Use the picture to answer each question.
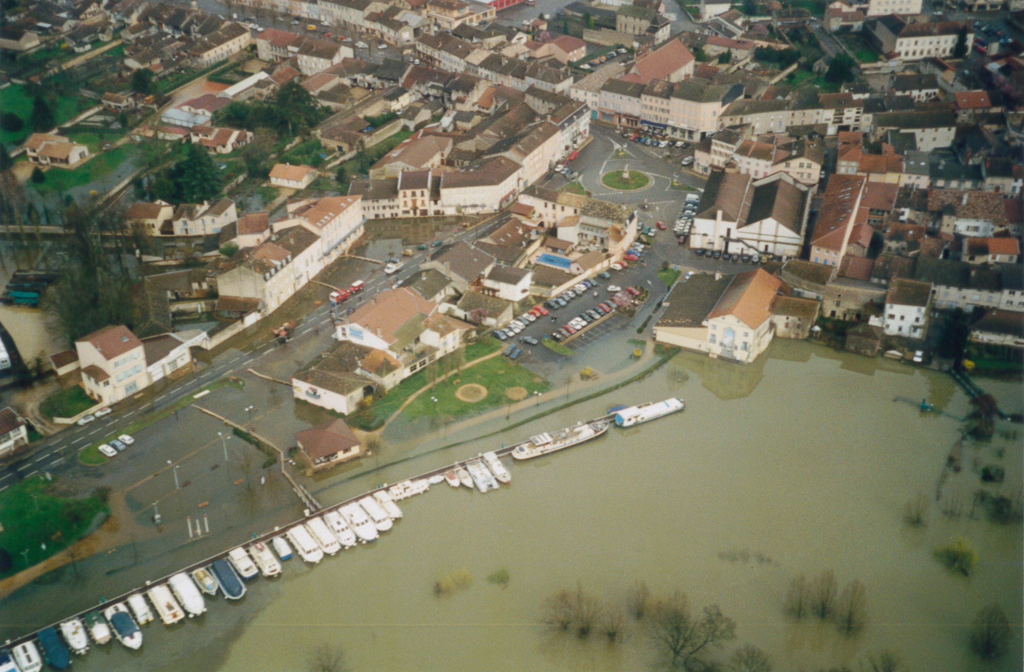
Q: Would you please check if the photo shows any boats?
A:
Yes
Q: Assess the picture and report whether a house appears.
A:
Yes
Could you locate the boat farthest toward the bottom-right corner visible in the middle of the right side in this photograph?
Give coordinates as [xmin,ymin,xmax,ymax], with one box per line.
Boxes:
[921,392,936,412]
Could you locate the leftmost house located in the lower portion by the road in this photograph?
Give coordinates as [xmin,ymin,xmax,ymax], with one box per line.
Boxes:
[0,404,30,457]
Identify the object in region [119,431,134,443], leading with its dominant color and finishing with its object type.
white vehicle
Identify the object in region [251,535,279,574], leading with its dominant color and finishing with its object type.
white boat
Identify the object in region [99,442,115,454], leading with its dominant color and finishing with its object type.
white vehicle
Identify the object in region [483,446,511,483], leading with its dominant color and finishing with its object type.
white boat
